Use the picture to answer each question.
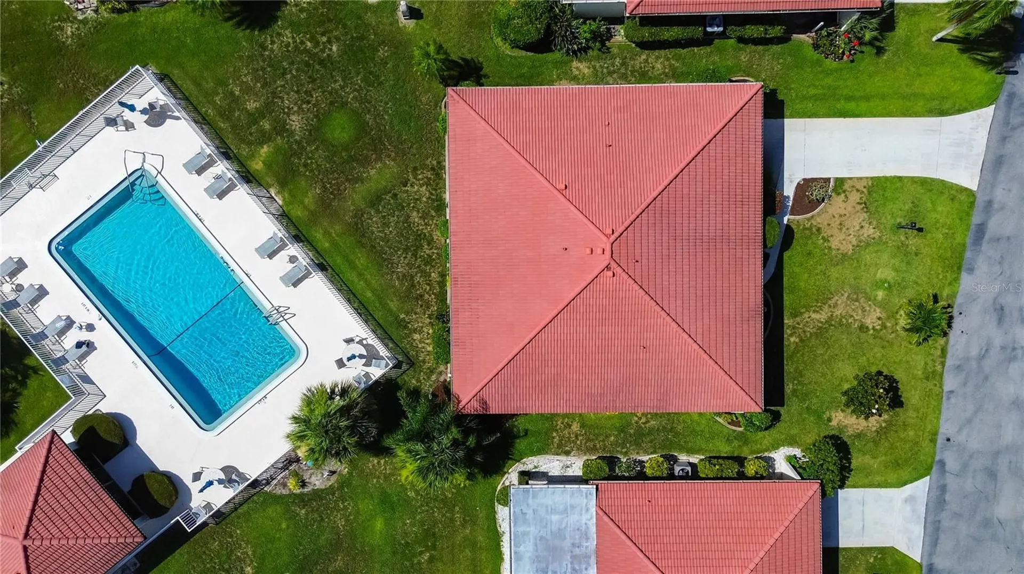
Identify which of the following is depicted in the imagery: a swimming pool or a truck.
swimming pool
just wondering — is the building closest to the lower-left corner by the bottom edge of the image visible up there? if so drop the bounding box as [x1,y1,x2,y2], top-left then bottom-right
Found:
[0,430,162,574]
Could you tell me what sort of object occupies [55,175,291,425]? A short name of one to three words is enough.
swimming pool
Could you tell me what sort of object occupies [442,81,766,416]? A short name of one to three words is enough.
house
